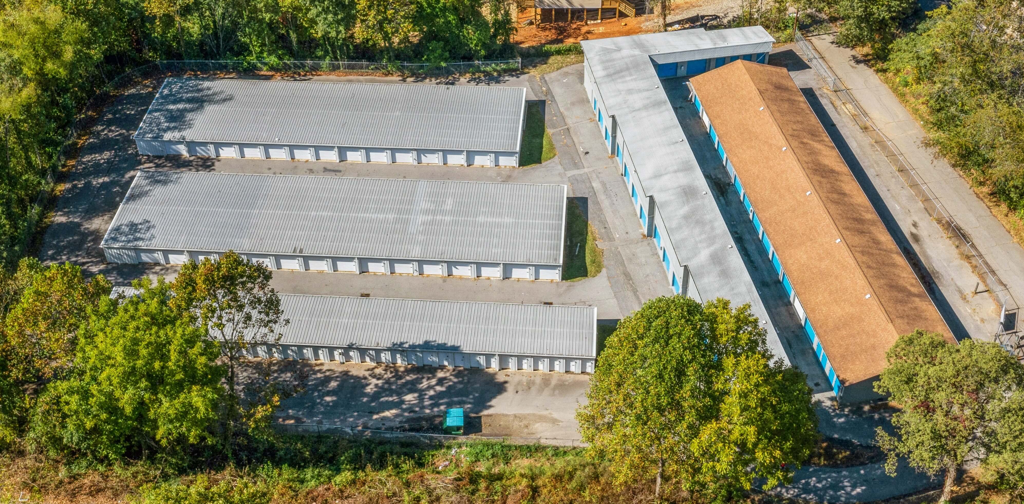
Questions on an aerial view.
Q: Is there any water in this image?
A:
No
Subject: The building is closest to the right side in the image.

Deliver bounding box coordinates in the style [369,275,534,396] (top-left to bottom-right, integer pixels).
[684,59,961,406]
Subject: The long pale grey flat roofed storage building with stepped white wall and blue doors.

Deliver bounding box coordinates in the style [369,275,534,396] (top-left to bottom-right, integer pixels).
[580,26,785,352]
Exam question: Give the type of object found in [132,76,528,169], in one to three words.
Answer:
building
